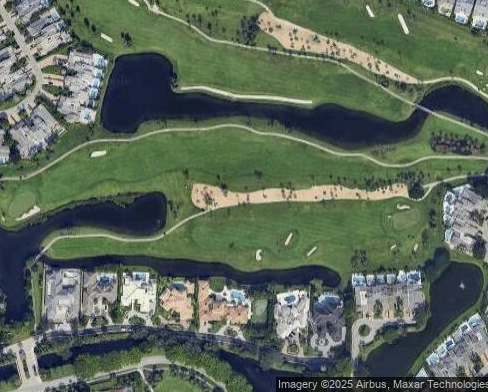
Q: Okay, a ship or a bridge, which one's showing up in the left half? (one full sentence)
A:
The feature located in the left half is a bridge.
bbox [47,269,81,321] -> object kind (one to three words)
house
